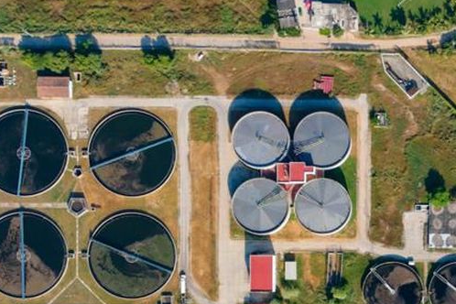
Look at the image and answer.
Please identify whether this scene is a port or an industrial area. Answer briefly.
industrial area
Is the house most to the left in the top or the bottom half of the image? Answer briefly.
top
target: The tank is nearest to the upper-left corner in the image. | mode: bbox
[0,105,70,198]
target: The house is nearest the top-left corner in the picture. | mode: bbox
[36,77,72,99]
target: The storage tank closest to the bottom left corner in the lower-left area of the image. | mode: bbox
[0,209,69,300]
